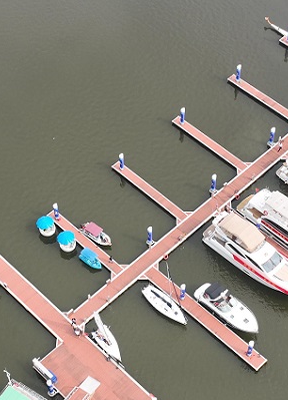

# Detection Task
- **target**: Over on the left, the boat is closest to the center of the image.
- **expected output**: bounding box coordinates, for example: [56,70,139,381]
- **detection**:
[80,220,109,247]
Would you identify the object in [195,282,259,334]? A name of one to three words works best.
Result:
boat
